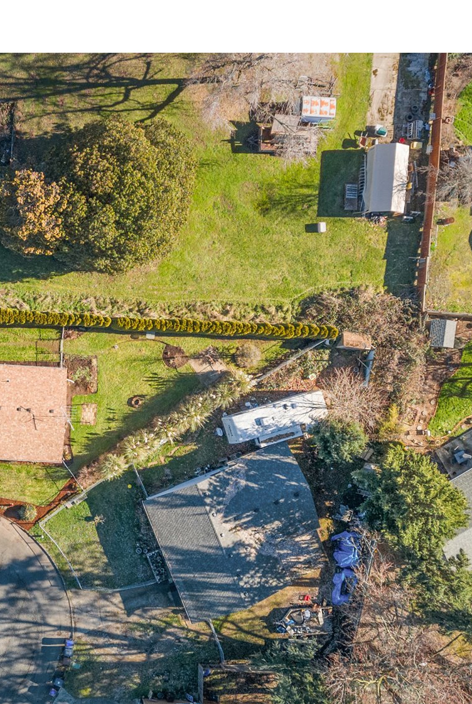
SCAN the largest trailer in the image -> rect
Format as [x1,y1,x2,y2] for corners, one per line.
[210,392,333,449]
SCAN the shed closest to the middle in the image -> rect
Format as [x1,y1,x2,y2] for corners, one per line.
[332,332,372,350]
